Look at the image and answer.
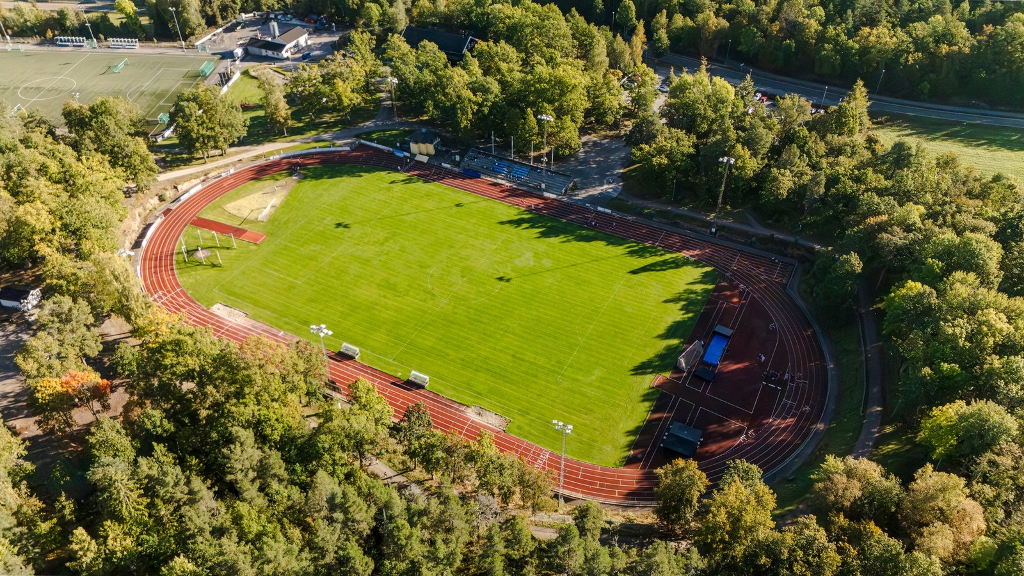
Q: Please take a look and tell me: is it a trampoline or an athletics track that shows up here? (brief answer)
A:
athletics track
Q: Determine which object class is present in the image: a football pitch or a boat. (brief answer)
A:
football pitch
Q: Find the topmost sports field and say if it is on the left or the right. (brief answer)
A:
left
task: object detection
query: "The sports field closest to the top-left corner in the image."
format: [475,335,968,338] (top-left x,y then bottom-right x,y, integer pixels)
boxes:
[0,49,224,134]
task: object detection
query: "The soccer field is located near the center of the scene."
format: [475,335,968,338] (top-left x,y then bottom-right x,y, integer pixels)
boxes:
[179,163,724,466]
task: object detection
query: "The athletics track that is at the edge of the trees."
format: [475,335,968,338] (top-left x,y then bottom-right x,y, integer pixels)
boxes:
[147,151,827,500]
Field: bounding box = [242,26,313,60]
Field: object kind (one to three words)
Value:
building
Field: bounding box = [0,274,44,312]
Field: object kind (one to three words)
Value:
house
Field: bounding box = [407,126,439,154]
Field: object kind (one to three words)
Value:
building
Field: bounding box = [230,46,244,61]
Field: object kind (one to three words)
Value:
vehicle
